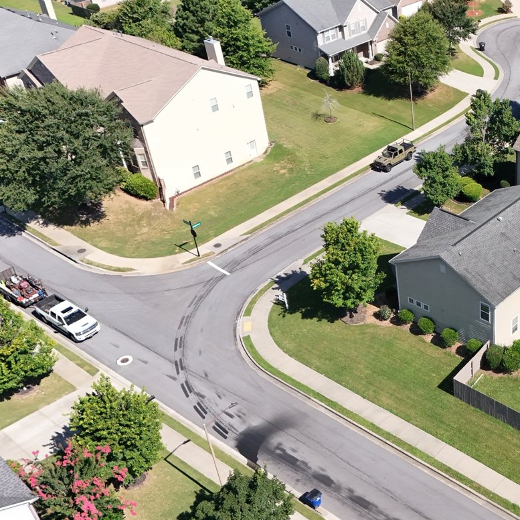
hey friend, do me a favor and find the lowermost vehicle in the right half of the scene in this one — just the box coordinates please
[371,140,415,172]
